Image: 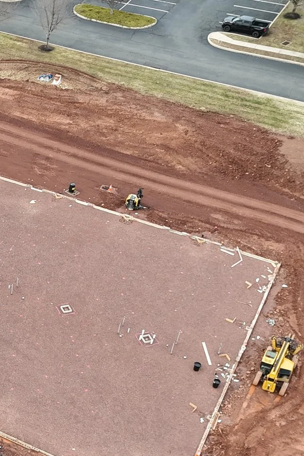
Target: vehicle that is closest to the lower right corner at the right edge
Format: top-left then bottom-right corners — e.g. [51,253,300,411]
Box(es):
[255,335,304,398]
